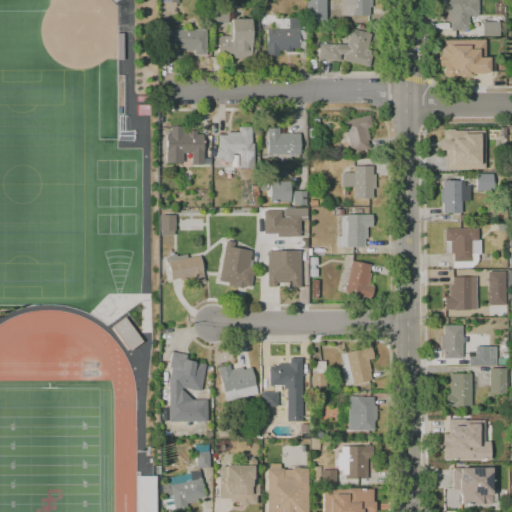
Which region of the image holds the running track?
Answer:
bottom left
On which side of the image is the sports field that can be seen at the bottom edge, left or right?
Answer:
left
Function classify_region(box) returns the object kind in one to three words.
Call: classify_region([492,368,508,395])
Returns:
building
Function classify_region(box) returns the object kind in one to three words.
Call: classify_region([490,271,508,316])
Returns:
building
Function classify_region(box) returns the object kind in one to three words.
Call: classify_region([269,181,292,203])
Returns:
house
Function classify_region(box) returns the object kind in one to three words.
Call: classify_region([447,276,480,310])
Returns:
house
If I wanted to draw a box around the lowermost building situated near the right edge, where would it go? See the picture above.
[456,468,497,508]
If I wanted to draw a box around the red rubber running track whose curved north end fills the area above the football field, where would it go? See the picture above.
[0,310,137,512]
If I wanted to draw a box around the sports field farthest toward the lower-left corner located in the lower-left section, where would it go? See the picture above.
[0,380,114,512]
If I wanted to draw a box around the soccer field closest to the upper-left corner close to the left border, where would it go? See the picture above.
[0,0,143,313]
